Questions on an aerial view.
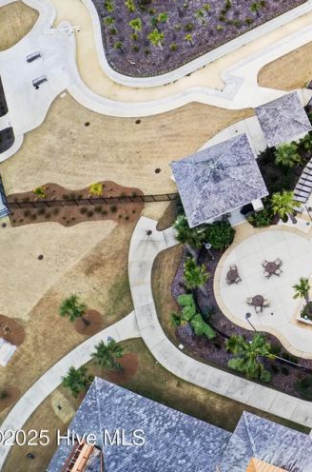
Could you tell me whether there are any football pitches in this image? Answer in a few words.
No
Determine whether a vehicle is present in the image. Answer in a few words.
No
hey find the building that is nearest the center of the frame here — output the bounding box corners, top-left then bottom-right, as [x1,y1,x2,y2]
[169,133,269,231]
